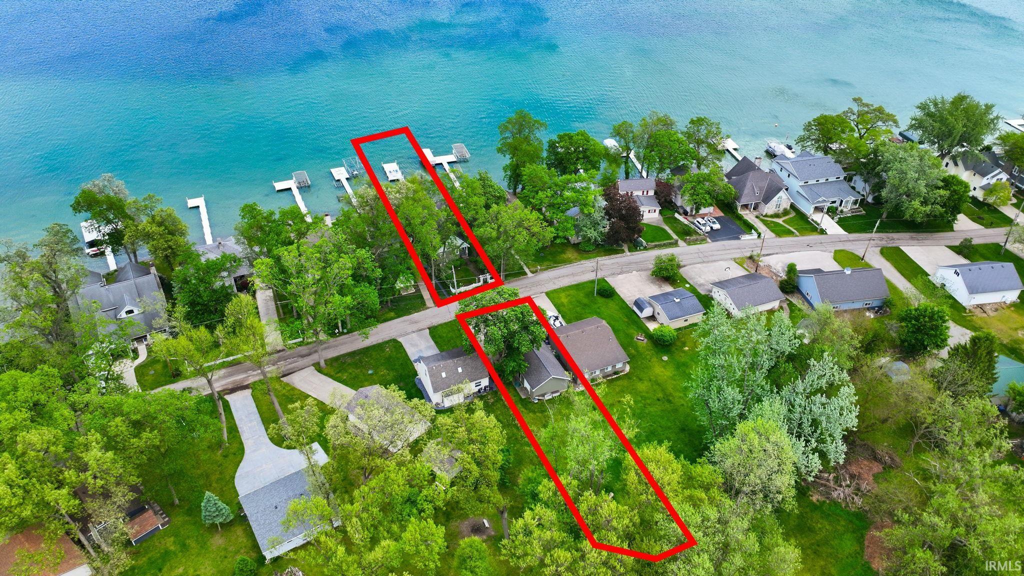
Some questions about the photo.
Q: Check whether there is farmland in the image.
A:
No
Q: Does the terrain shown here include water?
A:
Yes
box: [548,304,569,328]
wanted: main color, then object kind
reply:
white boat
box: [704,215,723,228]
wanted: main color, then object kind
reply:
white vehicle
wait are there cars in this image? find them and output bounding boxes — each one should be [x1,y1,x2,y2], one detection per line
[694,218,712,231]
[704,215,723,228]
